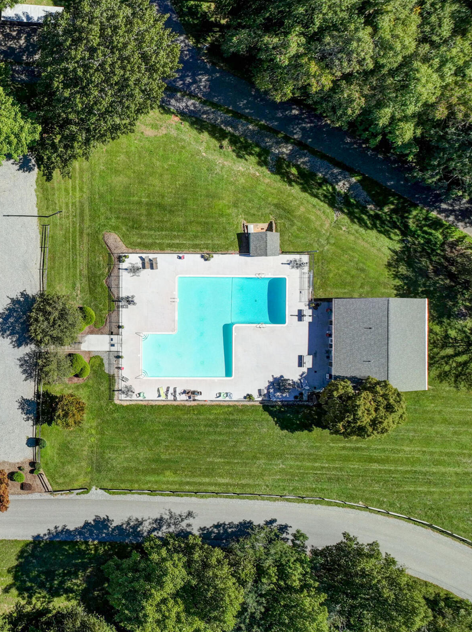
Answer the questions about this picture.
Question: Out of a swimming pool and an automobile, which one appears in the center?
swimming pool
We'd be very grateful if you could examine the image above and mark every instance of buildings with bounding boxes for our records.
[247,233,280,255]
[0,2,65,30]
[328,298,429,391]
